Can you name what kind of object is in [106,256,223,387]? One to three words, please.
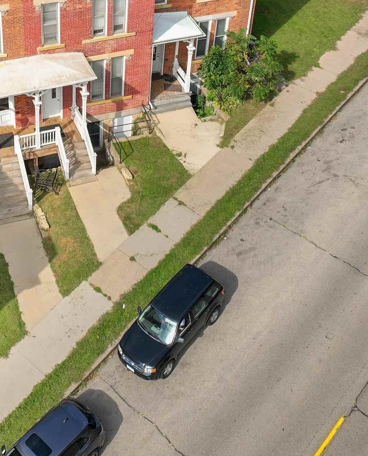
car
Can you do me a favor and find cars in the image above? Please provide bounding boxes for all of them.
[106,256,223,387]
[0,386,106,456]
